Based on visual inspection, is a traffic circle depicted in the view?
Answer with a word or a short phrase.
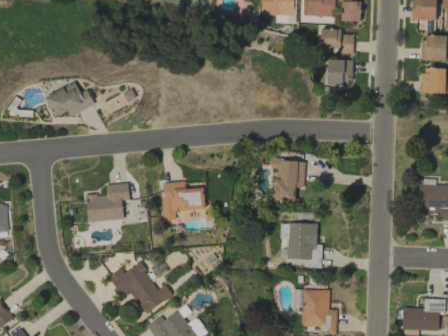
No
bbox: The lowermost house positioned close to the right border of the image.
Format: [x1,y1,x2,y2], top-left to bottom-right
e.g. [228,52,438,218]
[403,299,446,336]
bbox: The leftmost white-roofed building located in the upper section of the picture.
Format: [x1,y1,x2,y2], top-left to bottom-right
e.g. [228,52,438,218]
[6,95,34,118]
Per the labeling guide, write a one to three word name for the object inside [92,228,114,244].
swimming pool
